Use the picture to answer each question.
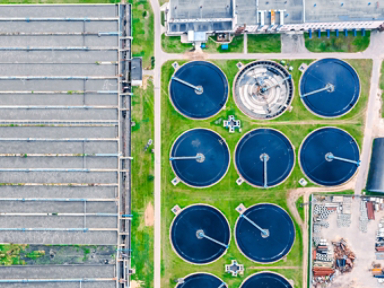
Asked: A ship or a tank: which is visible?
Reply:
tank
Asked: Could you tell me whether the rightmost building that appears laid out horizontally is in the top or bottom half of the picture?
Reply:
top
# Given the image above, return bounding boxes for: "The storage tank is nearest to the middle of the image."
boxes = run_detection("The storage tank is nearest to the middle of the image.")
[169,128,230,188]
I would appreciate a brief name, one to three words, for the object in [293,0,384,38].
building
